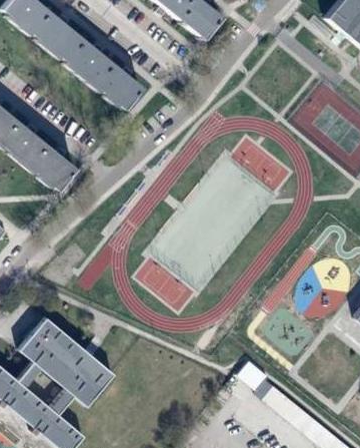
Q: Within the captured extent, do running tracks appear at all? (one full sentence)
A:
Yes, the picture does show a running track.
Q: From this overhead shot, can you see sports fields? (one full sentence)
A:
Yes, the picture does show a sports field.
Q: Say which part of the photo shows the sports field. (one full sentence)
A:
Look in the center portion of the view to spot the sports field.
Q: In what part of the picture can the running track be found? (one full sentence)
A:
Look in the center portion of the view to spot the running track.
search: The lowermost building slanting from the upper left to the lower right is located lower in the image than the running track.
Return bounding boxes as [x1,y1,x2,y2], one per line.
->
[261,386,346,448]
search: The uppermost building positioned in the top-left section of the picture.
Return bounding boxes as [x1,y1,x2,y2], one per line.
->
[0,0,147,112]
